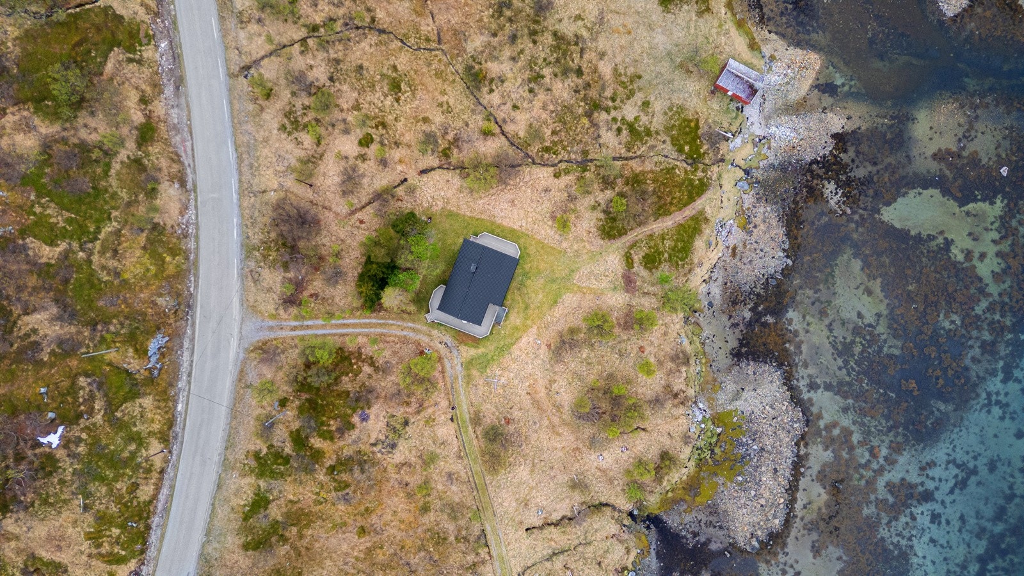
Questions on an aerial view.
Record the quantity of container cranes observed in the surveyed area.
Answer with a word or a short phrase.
0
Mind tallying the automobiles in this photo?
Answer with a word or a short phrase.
none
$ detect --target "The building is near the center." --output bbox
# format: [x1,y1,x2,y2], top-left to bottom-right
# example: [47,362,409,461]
[424,232,520,338]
